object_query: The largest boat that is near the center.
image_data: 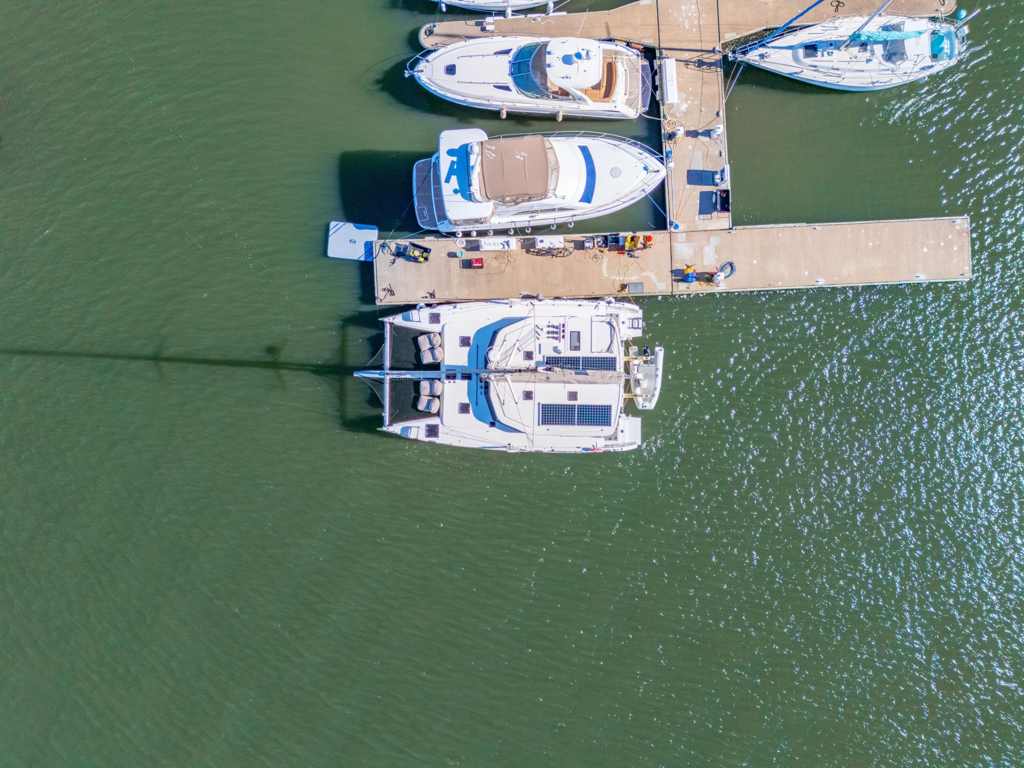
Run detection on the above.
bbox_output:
[354,299,650,453]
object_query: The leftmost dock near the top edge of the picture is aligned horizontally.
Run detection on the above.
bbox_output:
[420,0,657,51]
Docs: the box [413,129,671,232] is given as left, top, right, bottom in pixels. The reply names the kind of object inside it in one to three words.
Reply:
boat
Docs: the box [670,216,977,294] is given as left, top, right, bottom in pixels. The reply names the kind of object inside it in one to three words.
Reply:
pier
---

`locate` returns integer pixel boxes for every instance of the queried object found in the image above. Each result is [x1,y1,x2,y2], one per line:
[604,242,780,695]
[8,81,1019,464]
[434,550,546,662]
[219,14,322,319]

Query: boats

[438,0,567,18]
[354,299,650,453]
[728,0,985,92]
[628,343,663,410]
[402,9,651,122]
[413,129,671,232]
